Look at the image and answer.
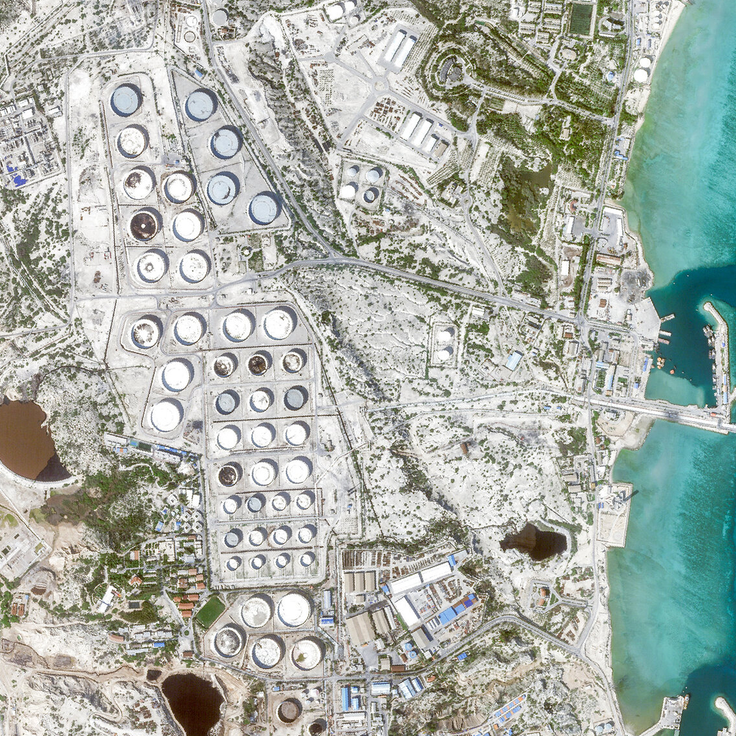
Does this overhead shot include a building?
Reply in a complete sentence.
Yes, there's a building here.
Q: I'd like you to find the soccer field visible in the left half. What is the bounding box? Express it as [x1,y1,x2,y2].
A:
[193,593,227,630]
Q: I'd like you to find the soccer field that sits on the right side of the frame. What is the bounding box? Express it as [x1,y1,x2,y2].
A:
[571,2,594,35]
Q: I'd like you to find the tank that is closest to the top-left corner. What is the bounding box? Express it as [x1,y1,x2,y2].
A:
[109,85,141,117]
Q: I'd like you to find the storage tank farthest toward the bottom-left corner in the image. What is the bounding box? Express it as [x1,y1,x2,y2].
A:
[211,627,244,659]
